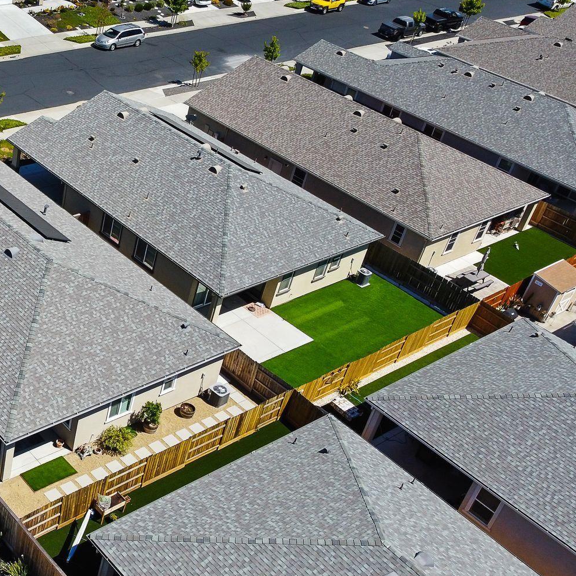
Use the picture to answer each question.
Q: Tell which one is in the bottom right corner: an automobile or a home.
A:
home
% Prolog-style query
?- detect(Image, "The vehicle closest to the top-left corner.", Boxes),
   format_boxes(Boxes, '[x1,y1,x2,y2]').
[94,22,148,50]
